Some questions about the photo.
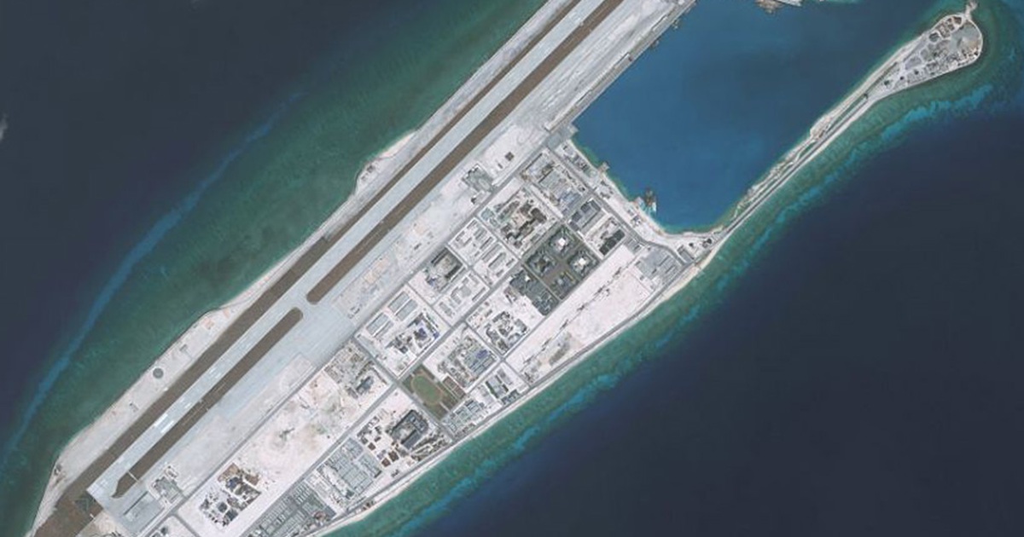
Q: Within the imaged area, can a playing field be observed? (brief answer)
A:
Yes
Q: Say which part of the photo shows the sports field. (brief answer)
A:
bottom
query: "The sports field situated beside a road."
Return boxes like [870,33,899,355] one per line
[403,365,464,419]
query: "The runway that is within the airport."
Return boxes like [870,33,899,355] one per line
[87,0,603,505]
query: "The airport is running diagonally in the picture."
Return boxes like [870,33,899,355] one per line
[34,0,635,537]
